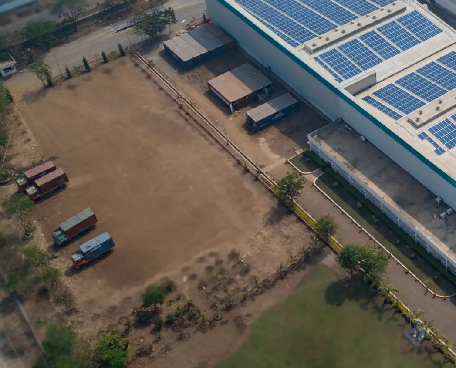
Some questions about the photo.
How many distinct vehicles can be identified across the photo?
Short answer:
4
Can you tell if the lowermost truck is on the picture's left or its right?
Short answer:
left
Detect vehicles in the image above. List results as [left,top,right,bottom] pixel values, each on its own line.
[70,231,116,269]
[24,165,69,198]
[12,158,56,192]
[50,205,101,244]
